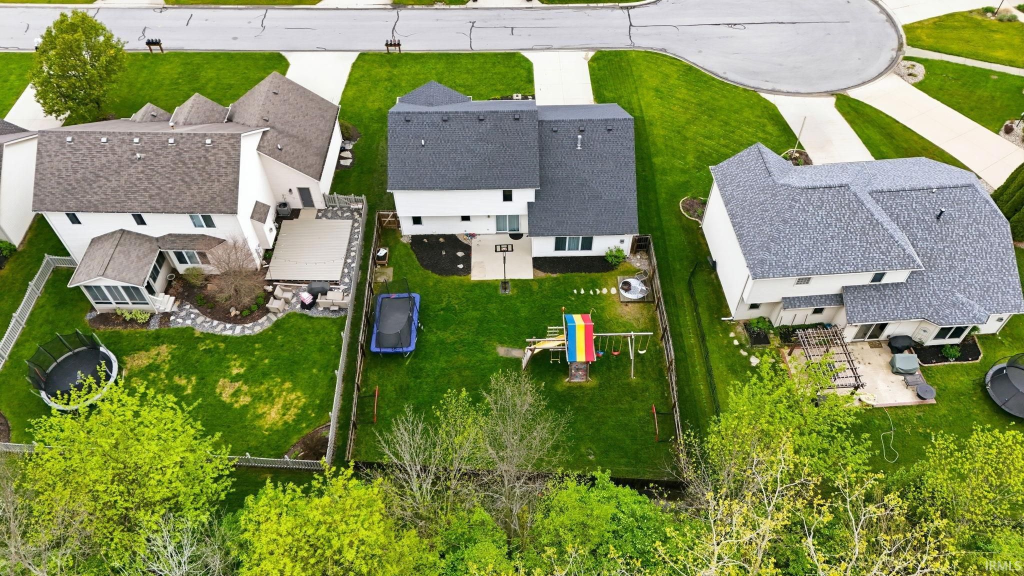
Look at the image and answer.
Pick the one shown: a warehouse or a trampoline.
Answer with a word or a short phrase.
trampoline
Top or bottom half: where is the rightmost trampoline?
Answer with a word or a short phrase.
bottom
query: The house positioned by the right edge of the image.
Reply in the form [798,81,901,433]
[696,142,1024,346]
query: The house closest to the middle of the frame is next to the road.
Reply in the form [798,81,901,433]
[388,80,639,262]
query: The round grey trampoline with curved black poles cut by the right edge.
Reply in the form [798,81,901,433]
[981,350,1024,419]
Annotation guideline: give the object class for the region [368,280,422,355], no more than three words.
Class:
trampoline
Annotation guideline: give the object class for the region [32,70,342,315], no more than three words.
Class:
house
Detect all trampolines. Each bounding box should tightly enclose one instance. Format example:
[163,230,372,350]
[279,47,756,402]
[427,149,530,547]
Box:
[368,280,422,355]
[22,325,121,409]
[981,350,1024,419]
